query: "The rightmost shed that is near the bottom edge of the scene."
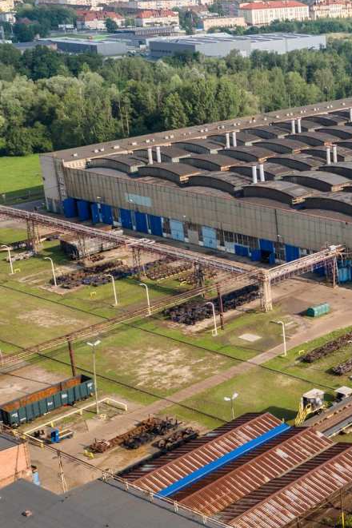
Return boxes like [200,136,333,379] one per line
[114,409,352,528]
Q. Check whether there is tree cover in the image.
Yes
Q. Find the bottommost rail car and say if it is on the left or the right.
left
